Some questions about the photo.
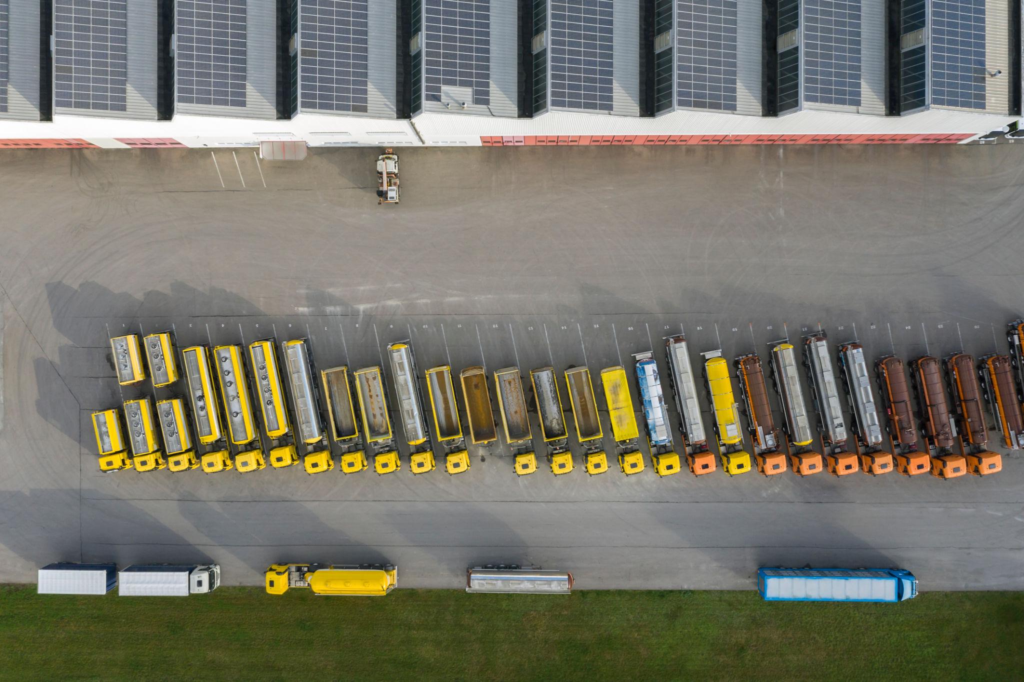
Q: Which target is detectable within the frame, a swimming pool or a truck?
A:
truck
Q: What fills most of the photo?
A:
paved ground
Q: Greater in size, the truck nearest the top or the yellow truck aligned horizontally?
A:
the yellow truck aligned horizontally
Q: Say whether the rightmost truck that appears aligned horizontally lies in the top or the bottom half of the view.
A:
bottom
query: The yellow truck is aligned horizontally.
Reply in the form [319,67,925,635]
[261,564,397,596]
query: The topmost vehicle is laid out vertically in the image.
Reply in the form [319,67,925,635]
[373,148,402,207]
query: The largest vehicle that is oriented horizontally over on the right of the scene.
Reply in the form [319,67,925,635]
[758,568,918,602]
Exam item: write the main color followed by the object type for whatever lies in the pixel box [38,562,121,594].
white trailer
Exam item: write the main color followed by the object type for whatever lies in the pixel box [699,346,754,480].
yellow truck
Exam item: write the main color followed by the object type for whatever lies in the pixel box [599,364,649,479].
yellow truck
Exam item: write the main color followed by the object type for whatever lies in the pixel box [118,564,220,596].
white truck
